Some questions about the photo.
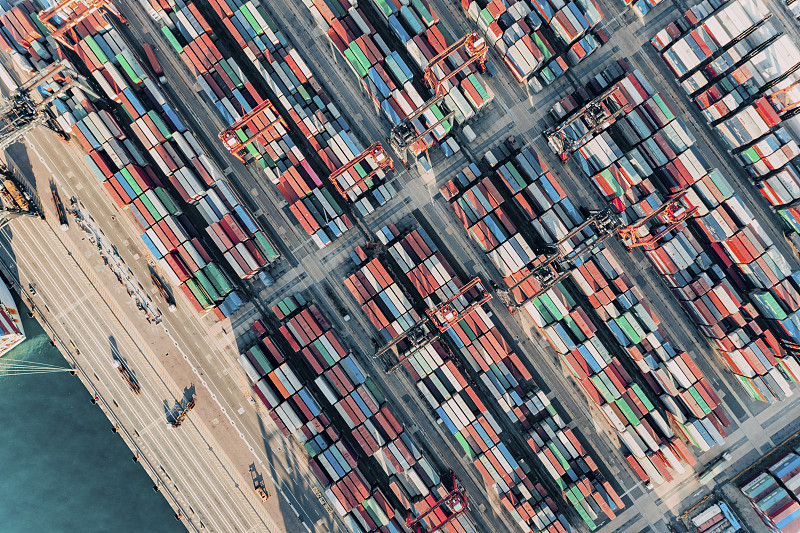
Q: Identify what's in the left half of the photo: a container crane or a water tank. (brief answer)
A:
container crane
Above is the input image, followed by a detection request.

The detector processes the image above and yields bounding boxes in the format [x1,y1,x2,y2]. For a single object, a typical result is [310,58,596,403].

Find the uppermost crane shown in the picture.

[32,0,132,64]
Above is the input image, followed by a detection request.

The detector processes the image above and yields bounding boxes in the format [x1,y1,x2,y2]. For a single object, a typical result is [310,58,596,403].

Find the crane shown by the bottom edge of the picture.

[405,461,475,533]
